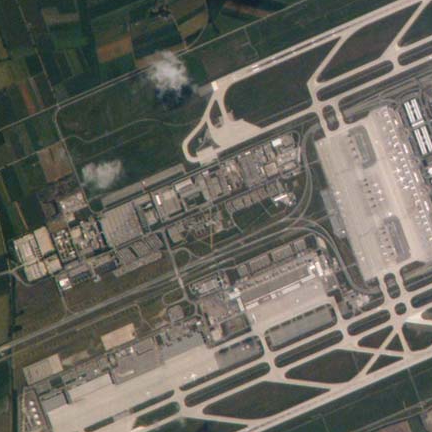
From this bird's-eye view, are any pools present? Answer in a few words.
No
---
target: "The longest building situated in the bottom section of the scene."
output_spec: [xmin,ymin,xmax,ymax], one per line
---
[239,263,313,303]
